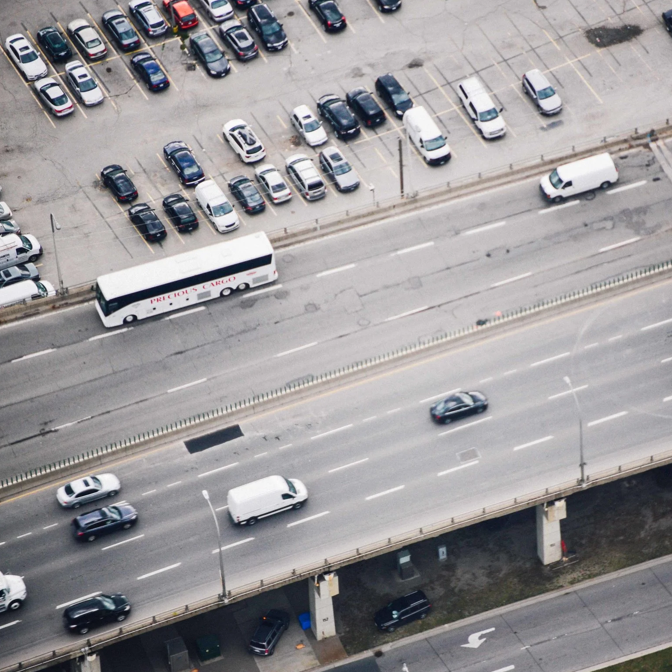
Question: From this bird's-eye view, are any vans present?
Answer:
Yes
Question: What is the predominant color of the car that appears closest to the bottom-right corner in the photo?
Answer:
black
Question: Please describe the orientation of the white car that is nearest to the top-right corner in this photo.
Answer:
at an angle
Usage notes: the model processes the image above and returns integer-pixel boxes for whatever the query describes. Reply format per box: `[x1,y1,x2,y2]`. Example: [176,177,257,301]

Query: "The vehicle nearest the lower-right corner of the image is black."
[373,590,433,634]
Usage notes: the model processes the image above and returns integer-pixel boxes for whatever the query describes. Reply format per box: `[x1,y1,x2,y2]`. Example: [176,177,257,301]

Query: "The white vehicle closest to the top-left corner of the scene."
[6,34,47,79]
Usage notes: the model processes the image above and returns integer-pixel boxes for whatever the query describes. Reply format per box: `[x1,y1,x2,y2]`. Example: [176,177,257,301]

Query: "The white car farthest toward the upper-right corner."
[522,72,563,113]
